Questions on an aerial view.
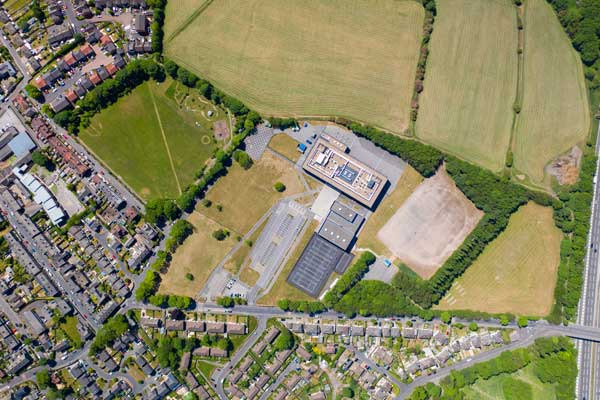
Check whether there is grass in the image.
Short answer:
Yes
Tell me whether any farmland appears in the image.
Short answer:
Yes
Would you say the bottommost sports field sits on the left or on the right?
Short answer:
right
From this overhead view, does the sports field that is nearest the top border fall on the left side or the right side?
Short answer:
left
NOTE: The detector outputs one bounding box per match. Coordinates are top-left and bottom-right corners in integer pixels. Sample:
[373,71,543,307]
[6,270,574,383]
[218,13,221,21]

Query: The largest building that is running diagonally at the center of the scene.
[301,136,387,208]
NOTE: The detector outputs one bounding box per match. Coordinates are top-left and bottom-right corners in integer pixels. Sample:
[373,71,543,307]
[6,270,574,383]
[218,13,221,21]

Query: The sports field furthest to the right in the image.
[378,168,483,276]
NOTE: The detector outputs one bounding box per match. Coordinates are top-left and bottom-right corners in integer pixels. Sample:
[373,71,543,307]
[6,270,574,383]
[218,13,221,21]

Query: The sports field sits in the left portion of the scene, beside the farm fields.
[81,76,233,203]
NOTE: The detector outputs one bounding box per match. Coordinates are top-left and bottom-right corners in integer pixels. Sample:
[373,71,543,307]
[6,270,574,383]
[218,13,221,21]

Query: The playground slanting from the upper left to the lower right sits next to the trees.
[175,86,229,145]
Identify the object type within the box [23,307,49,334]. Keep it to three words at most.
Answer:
building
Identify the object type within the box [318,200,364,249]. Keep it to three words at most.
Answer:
building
